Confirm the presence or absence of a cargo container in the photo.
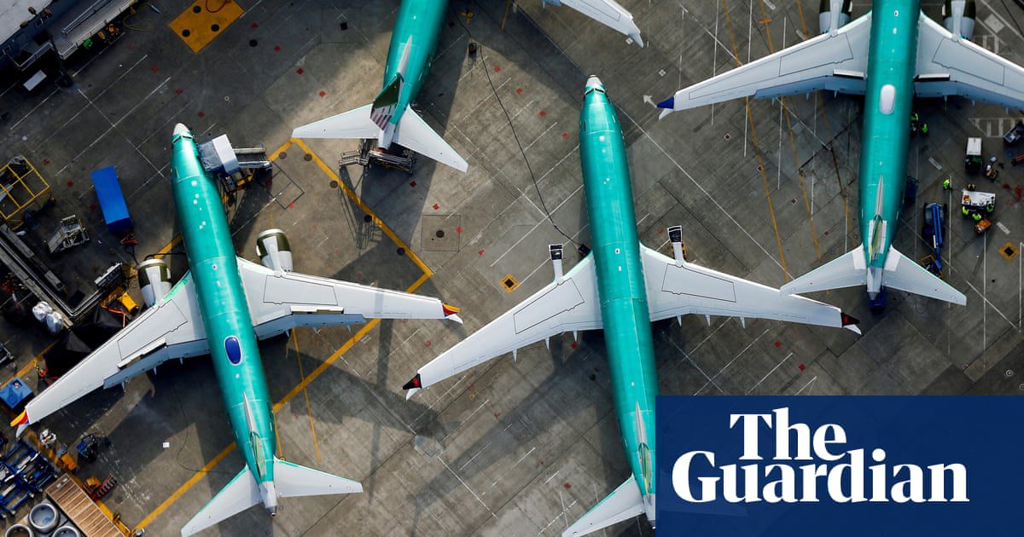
Yes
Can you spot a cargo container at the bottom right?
No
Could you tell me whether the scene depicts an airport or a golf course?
airport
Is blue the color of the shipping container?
Yes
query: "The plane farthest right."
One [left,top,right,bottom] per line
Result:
[658,0,1024,306]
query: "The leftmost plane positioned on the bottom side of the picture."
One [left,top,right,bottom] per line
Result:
[12,123,462,537]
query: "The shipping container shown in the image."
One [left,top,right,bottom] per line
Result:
[91,167,138,243]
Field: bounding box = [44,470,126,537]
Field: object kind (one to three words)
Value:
trailer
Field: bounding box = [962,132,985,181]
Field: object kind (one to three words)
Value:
truck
